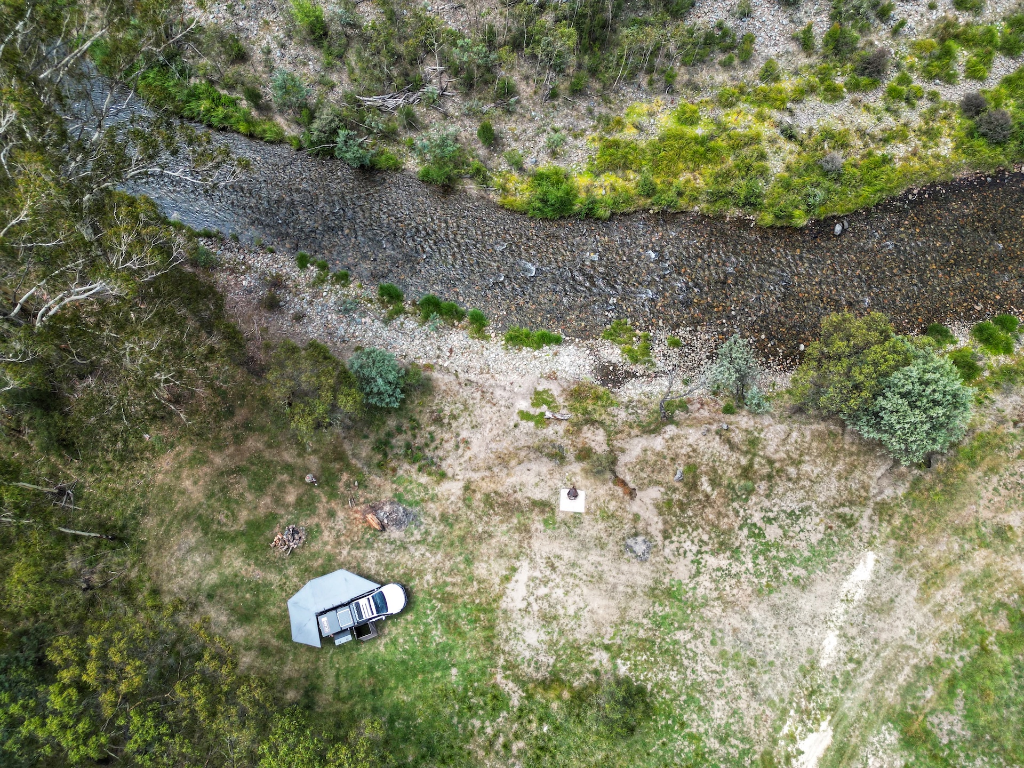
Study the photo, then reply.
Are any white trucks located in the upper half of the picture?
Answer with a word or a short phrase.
No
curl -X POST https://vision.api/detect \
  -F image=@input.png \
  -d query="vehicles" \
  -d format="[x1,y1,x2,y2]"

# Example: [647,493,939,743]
[288,568,409,651]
